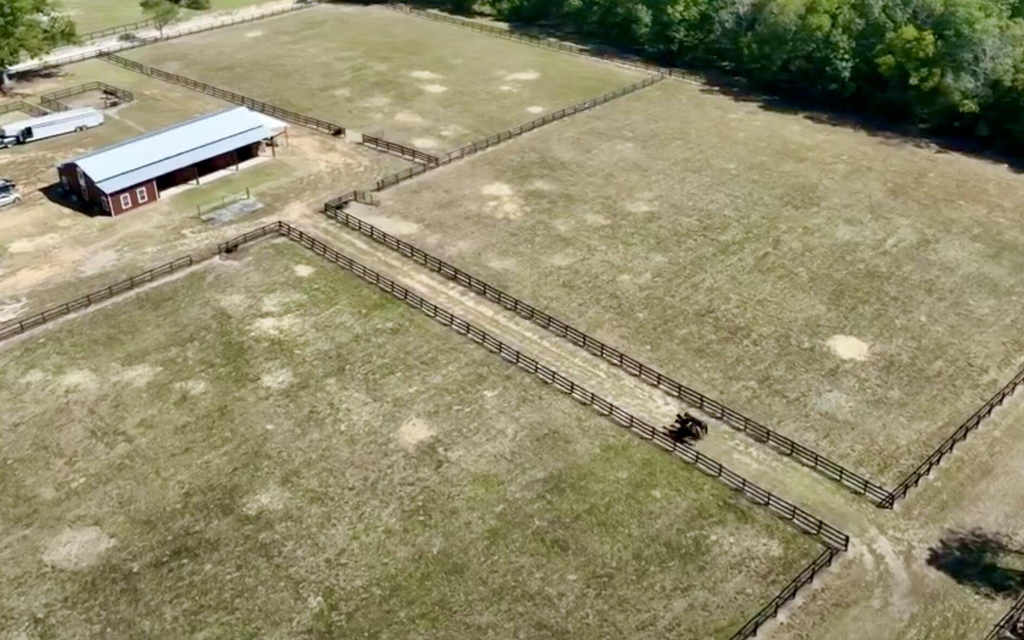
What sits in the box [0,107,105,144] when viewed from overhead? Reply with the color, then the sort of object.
white trailer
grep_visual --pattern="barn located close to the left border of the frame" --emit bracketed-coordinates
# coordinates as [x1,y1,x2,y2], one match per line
[51,110,290,217]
